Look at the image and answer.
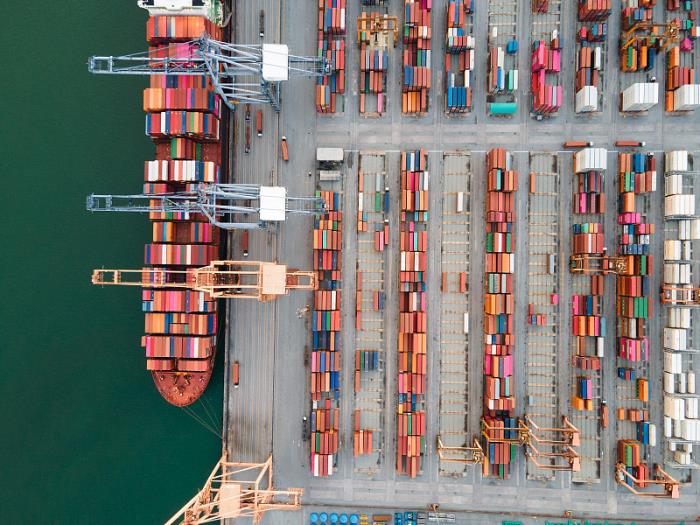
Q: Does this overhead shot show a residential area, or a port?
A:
port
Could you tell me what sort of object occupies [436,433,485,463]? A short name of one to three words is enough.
container crane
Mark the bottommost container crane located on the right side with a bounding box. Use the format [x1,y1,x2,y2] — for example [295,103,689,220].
[617,465,682,500]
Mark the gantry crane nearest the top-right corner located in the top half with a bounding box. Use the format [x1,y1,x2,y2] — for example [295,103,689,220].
[619,21,681,55]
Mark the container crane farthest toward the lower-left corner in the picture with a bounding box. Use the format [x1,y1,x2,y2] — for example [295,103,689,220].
[162,447,302,525]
